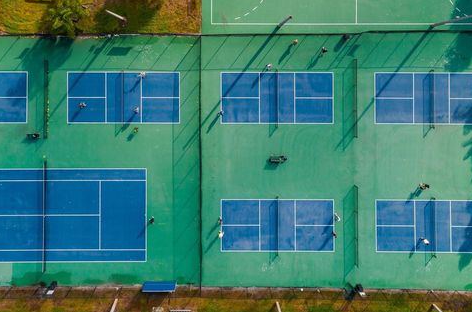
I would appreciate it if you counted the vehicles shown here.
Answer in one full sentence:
There are no vehicles in this view.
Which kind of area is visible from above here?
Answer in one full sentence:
The area seen from above is a sports ground.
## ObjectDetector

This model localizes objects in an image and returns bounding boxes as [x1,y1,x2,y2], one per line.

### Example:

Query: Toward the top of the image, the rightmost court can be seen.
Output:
[374,73,472,124]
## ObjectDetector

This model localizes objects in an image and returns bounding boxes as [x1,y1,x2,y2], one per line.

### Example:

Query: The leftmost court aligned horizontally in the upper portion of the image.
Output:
[67,71,180,123]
